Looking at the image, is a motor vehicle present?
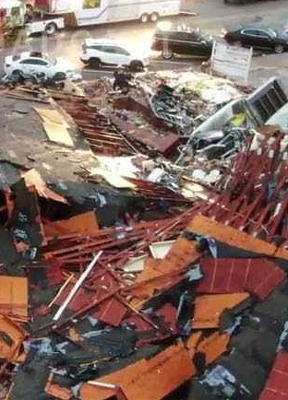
Yes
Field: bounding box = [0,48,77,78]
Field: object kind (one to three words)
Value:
car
